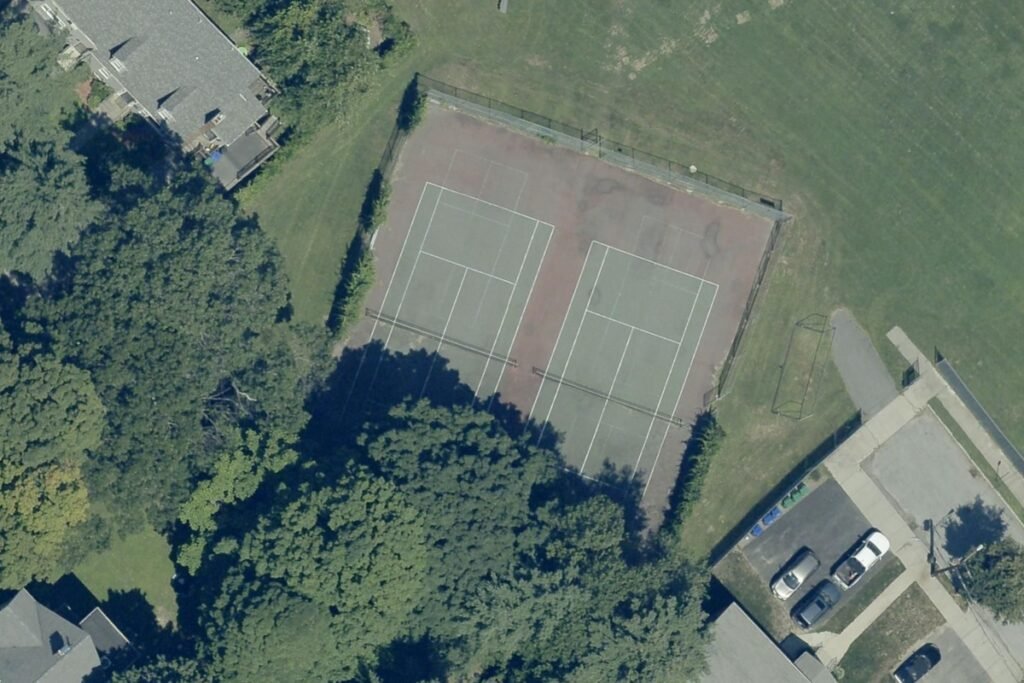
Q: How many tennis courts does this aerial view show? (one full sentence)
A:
My tally gives 2 tennis courts in this view.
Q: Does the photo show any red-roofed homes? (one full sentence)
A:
No, no red-roofed home can be seen from above.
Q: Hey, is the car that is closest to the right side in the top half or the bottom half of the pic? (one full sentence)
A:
The car that is closest to the right side sits in the bottom half of the picture.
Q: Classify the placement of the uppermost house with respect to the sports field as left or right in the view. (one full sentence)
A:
From the viewer's perspective, the uppermost house falls to the left of the sports field.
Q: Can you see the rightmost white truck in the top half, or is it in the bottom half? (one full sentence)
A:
The rightmost white truck is in the bottom half of the image.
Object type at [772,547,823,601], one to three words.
car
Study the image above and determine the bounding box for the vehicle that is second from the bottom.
[792,582,842,634]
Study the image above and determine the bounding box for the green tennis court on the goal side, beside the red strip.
[504,216,719,538]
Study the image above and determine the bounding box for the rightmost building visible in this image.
[706,601,841,683]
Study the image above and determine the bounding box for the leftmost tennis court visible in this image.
[332,151,554,472]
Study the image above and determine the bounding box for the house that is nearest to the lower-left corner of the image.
[0,588,131,683]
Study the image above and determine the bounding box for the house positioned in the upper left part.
[32,0,285,192]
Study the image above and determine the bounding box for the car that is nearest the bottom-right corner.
[894,645,944,683]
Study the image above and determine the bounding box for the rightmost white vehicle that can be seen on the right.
[831,533,891,593]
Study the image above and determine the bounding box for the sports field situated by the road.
[540,0,1024,461]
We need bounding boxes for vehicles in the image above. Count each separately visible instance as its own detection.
[792,582,842,634]
[772,547,823,601]
[894,645,944,683]
[831,533,891,593]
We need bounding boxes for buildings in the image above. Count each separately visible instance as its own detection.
[706,601,841,683]
[32,0,285,192]
[0,588,131,683]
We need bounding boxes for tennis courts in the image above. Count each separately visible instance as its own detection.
[332,151,554,472]
[504,216,719,538]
